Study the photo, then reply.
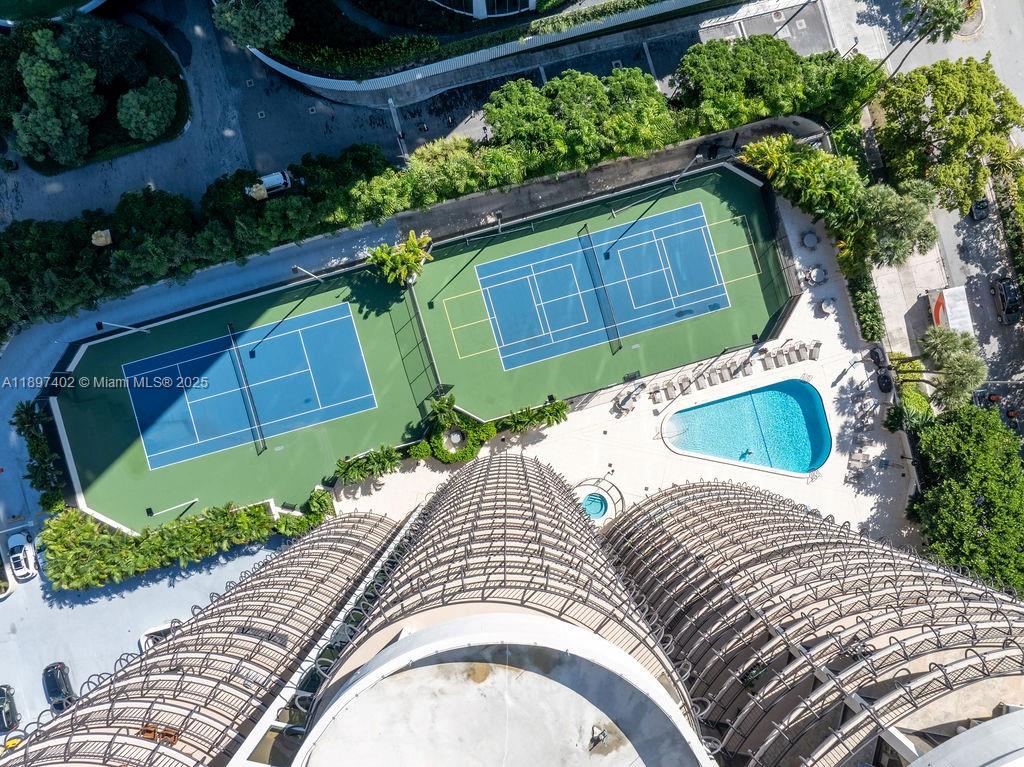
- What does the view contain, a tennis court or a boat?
tennis court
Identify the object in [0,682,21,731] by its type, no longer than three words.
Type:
car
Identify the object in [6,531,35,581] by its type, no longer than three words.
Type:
car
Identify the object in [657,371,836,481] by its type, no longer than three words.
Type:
swimming pool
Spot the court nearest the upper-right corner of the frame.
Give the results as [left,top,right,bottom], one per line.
[412,160,801,421]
